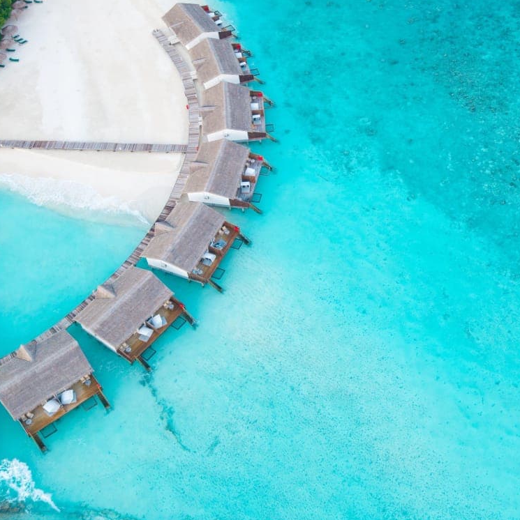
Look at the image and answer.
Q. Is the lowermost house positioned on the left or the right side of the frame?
left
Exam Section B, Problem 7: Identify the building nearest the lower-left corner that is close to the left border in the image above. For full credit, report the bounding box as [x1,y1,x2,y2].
[0,330,112,455]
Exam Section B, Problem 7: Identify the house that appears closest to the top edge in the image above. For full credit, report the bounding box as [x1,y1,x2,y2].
[160,3,246,53]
